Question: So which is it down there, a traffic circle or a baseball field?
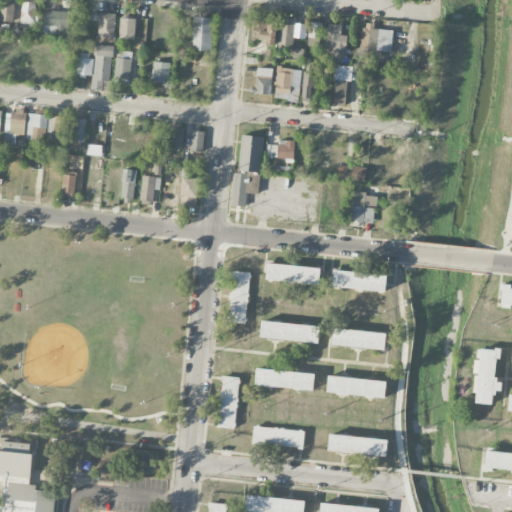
baseball field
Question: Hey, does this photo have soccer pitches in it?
Yes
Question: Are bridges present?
Yes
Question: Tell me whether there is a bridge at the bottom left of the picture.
No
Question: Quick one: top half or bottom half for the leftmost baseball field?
bottom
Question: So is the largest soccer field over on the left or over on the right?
left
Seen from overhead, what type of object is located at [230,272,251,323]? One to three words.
building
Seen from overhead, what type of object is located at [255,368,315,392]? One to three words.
building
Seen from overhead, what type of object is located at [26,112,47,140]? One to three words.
house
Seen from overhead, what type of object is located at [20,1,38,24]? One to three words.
house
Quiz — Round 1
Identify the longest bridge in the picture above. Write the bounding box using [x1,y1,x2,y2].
[396,240,495,278]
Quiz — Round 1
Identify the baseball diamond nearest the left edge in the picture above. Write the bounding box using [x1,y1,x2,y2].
[23,322,89,388]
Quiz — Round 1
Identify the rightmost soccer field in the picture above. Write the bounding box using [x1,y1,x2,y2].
[92,278,162,388]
